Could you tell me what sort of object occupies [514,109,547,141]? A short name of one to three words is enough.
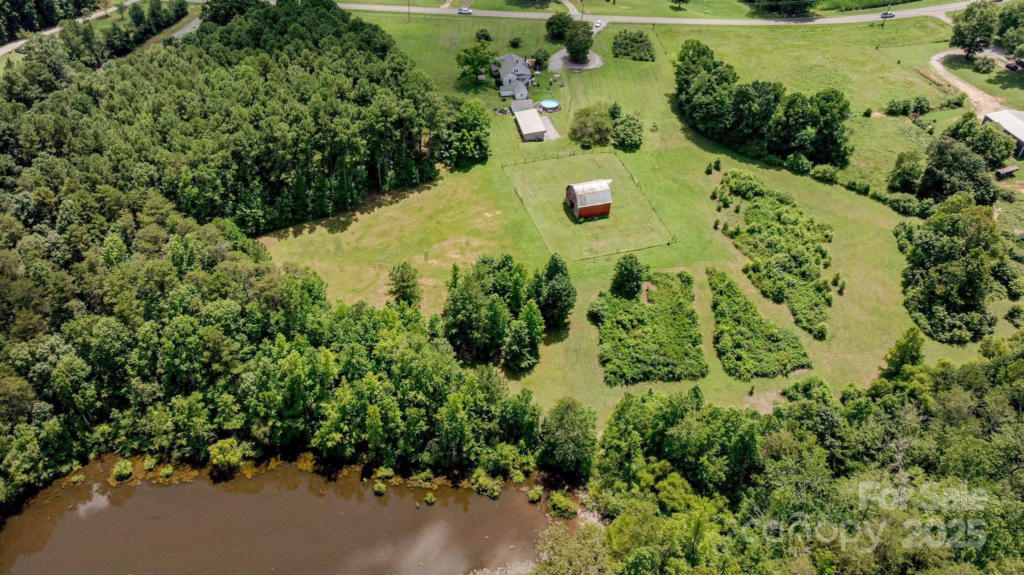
building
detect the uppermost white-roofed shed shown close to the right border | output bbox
[983,108,1024,160]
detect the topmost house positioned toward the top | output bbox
[489,53,538,99]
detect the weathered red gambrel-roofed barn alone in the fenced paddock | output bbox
[569,181,616,217]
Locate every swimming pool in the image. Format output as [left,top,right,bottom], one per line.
[539,100,560,112]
